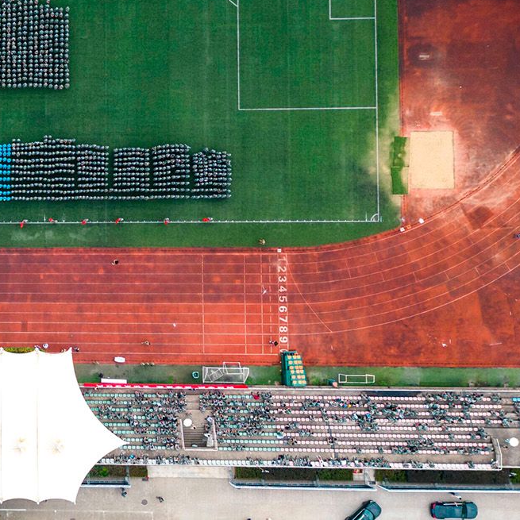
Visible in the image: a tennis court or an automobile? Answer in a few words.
automobile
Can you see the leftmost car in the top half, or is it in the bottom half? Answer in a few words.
bottom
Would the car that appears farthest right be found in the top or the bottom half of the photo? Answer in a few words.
bottom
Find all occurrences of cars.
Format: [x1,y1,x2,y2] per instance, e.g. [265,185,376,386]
[339,496,377,520]
[427,498,473,519]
